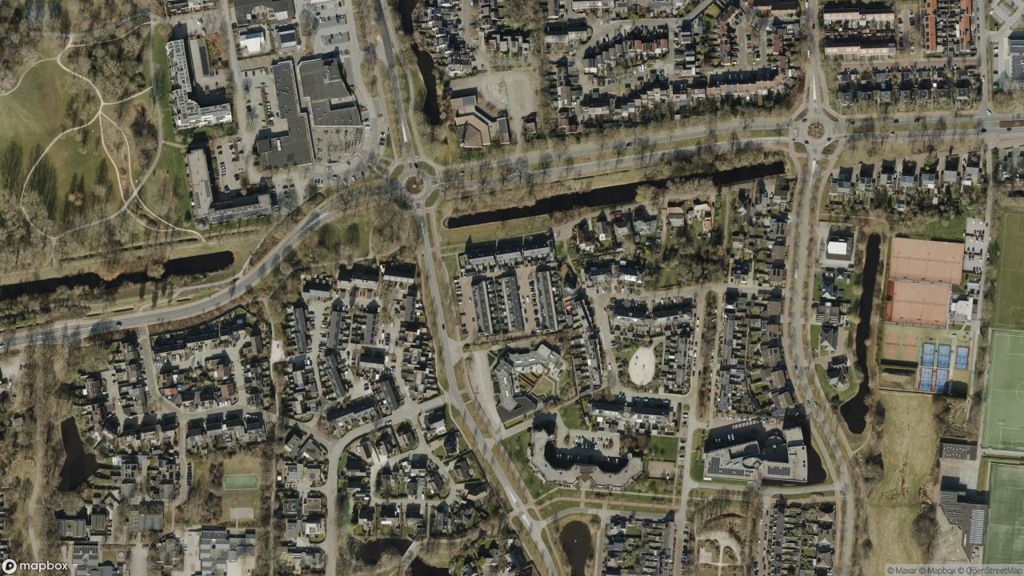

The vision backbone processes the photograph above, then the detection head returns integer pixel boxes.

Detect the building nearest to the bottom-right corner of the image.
[939,490,988,563]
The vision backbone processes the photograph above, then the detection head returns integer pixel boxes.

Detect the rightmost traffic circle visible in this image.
[794,108,839,154]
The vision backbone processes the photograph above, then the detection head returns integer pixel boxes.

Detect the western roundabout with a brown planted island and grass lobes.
[390,161,439,207]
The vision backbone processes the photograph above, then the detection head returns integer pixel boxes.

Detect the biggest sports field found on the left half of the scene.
[222,453,262,524]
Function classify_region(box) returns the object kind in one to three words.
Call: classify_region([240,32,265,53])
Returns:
building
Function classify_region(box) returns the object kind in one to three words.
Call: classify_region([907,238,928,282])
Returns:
tennis court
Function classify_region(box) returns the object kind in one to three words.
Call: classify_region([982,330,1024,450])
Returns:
soccer field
